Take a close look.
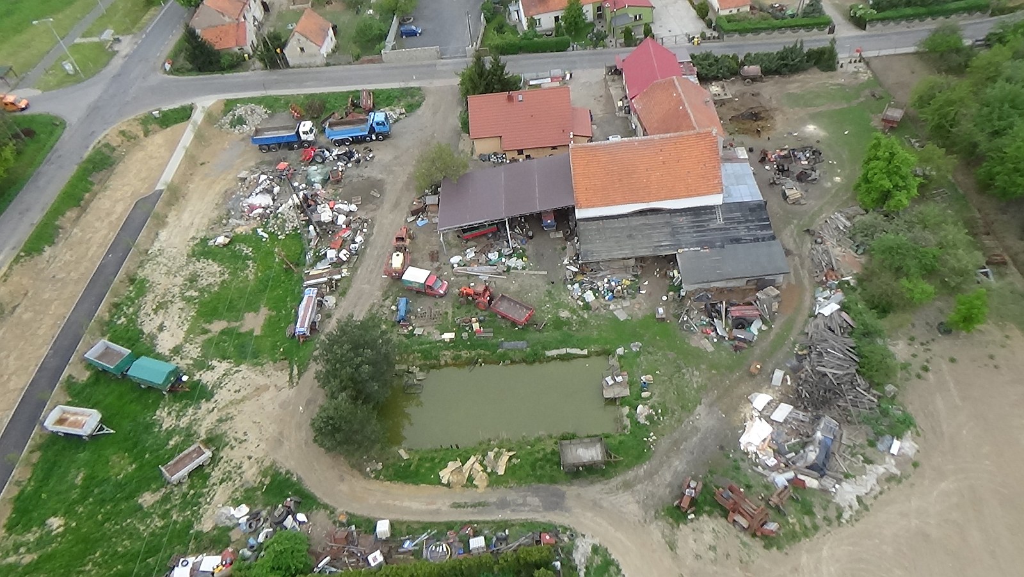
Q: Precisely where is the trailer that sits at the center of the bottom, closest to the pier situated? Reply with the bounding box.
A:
[558,439,623,474]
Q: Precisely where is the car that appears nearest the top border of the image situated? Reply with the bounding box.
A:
[400,24,420,36]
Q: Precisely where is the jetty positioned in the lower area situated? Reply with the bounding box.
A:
[602,357,629,402]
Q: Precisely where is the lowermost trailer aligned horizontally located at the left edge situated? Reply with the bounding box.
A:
[49,407,108,437]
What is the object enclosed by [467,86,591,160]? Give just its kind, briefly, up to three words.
house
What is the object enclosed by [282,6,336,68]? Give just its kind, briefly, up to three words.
shed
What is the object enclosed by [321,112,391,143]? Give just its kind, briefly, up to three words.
truck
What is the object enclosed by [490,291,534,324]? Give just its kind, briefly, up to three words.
trailer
